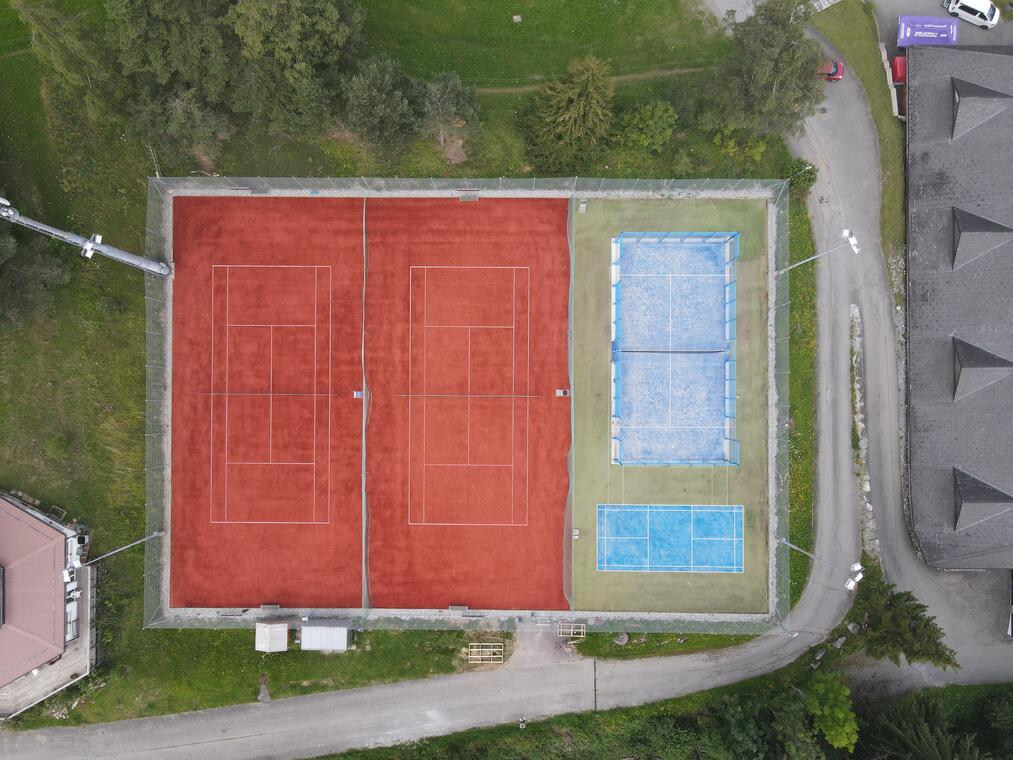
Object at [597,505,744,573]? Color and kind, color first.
blue sports court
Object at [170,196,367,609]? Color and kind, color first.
red tennis court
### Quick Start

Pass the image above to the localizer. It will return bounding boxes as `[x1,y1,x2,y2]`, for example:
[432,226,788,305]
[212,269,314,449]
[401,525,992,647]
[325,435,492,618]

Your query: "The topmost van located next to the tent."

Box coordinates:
[938,0,999,33]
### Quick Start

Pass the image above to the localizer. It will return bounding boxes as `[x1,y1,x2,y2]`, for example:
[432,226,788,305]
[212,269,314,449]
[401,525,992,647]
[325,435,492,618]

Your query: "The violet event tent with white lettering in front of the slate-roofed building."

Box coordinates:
[885,17,958,57]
